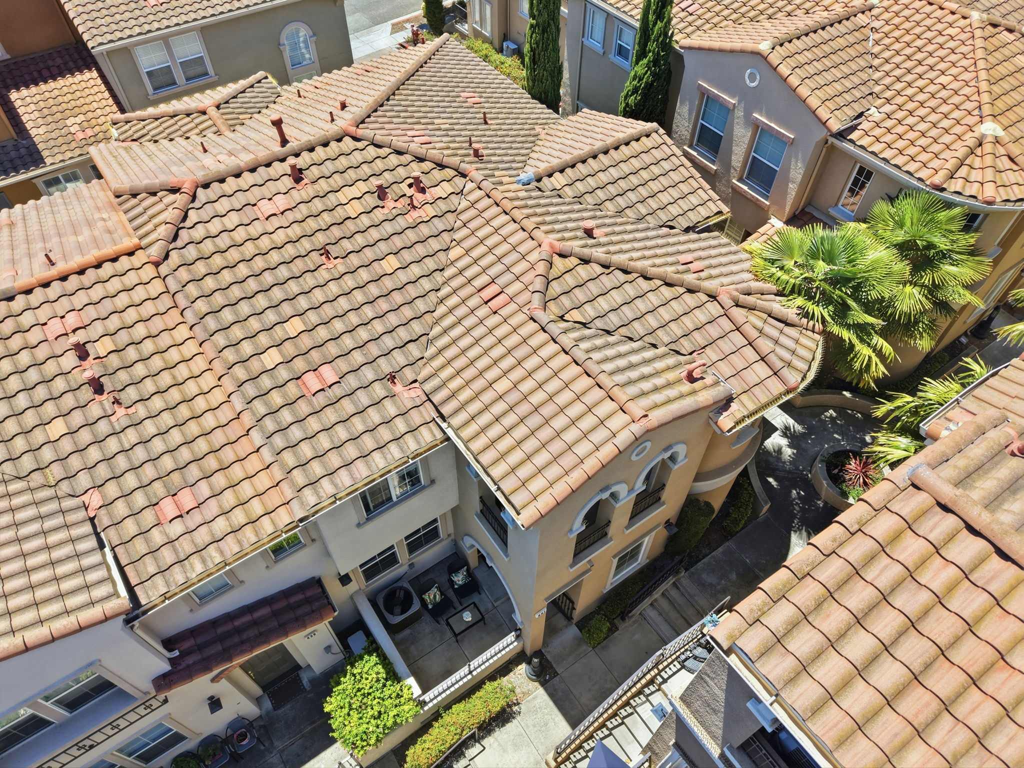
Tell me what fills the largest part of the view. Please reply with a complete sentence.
What you mostly see from above here is buildings.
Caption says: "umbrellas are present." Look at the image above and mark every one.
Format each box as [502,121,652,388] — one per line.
[570,738,611,768]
